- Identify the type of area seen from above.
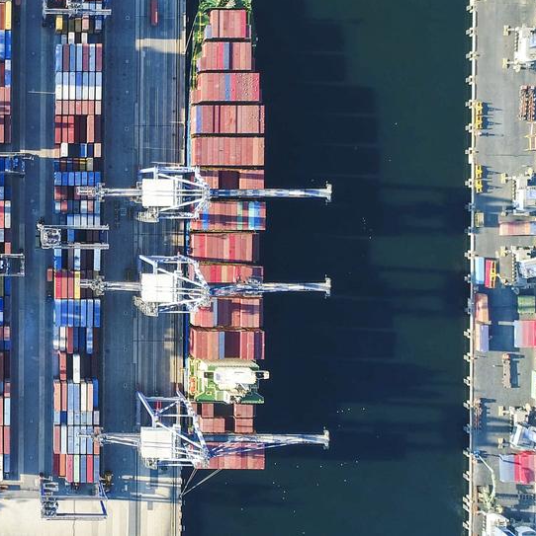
port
